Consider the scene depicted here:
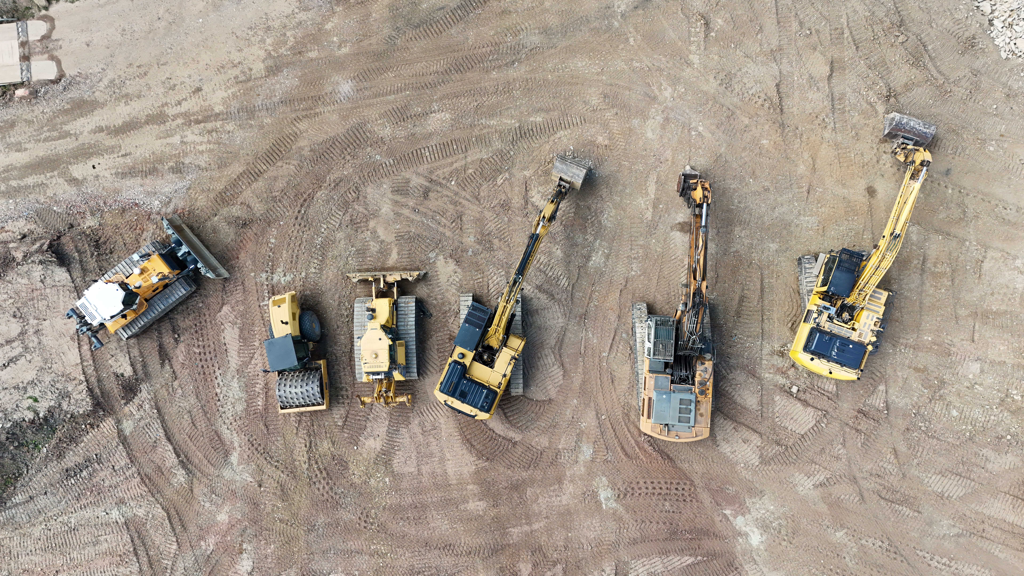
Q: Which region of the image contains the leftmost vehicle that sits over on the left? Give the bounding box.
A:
[63,216,232,350]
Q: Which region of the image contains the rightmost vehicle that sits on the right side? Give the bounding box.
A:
[789,113,936,380]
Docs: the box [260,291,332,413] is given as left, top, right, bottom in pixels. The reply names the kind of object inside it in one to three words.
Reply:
work vehicle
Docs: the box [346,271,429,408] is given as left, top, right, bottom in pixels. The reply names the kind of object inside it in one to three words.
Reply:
work vehicle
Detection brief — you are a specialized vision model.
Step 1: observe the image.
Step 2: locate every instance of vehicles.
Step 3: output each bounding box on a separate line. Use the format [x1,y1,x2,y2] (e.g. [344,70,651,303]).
[632,165,720,442]
[260,291,332,413]
[346,271,429,408]
[434,154,591,419]
[789,113,936,380]
[63,216,232,350]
